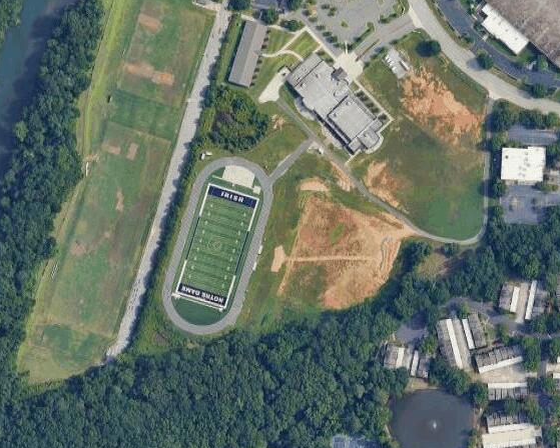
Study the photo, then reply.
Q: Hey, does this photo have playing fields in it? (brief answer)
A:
Yes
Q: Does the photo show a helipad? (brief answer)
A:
No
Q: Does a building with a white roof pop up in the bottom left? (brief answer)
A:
No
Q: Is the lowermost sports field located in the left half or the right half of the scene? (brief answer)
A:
left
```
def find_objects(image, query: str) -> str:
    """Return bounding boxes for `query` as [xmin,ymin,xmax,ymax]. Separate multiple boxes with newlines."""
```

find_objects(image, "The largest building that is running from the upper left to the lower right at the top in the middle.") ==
[287,53,382,154]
